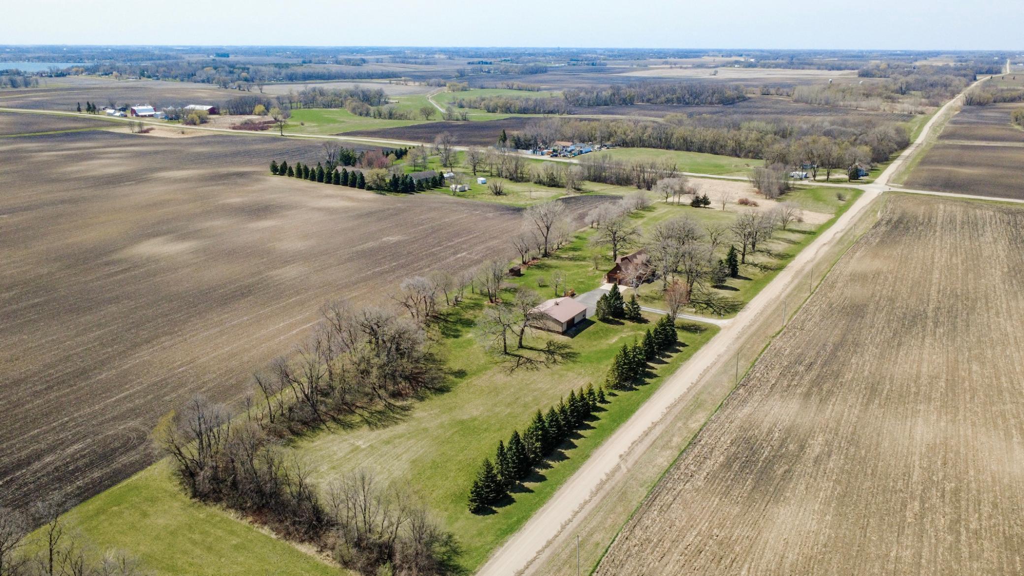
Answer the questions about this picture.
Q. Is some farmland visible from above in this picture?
Yes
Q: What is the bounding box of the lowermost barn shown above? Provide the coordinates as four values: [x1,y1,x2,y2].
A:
[528,297,589,334]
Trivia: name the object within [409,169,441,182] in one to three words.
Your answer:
shed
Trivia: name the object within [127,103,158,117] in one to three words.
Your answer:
barn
